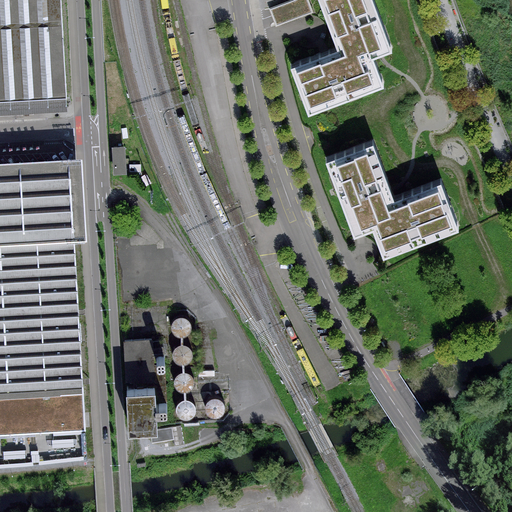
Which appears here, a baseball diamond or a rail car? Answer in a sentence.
It is a rail car that can be seen here.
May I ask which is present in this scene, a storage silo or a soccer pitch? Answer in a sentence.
It is a storage silo that can be seen here.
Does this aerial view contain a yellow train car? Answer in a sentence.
Yes, this view includes a yellow train car.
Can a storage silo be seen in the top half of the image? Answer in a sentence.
No, no storage silo appears in the top half of the image.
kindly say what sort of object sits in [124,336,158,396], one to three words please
building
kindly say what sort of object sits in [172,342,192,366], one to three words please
silo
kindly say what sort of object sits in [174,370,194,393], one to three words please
silo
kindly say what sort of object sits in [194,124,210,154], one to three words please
rail car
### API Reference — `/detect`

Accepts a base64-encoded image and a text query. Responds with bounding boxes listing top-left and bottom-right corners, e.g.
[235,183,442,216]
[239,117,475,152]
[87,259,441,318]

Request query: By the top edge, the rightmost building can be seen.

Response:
[294,0,392,114]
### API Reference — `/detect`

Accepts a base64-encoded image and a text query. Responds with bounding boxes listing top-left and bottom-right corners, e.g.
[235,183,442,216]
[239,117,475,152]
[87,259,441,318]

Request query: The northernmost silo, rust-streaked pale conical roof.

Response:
[171,314,192,338]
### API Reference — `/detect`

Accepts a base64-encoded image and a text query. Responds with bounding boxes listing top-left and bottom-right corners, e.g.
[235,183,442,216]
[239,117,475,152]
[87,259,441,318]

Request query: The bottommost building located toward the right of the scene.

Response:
[326,141,457,260]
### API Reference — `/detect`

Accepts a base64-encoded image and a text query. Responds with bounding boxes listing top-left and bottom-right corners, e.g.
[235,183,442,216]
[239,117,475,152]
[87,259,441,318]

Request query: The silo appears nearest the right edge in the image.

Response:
[205,394,224,418]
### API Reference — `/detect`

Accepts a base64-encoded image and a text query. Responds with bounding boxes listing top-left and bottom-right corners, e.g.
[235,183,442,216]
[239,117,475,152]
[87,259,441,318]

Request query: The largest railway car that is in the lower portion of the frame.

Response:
[297,346,320,387]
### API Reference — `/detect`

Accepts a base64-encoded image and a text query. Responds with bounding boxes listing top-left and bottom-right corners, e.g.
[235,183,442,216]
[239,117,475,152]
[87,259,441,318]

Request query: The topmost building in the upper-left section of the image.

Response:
[0,0,68,114]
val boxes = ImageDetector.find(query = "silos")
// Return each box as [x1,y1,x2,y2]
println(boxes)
[176,397,196,421]
[172,342,192,366]
[174,370,194,393]
[205,394,224,418]
[171,314,192,338]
